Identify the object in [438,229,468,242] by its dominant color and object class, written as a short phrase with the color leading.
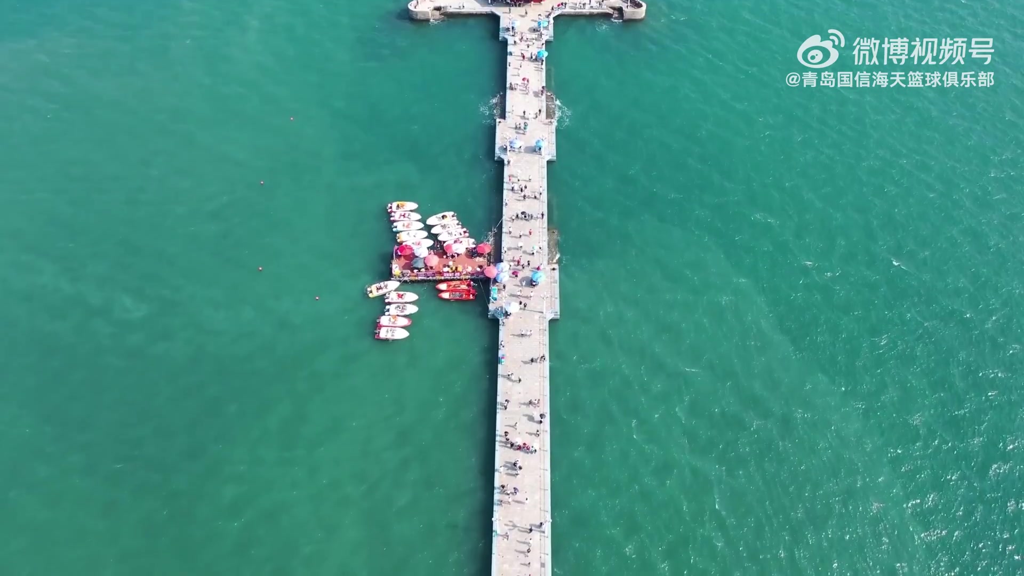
white boat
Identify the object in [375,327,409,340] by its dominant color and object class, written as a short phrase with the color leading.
white boat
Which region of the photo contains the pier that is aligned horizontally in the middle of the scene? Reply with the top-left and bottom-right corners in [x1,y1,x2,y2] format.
[393,246,493,281]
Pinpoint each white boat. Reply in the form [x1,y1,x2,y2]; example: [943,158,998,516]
[396,230,428,242]
[399,238,434,249]
[375,327,409,340]
[393,220,424,231]
[444,237,477,249]
[388,202,418,212]
[431,221,463,234]
[385,304,418,315]
[375,315,412,327]
[390,212,422,222]
[426,212,458,225]
[385,292,418,303]
[366,281,400,297]
[438,229,468,242]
